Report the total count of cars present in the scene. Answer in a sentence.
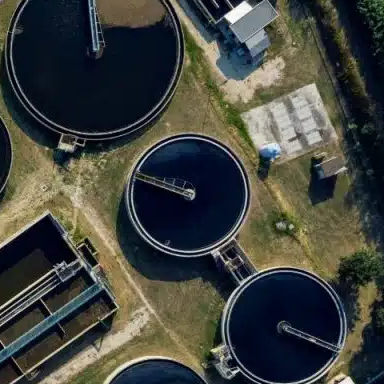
The picture shows no cars.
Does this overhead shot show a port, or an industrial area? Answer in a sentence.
This looks like an industrial area.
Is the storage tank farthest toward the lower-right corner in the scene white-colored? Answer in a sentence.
No, the storage tank farthest toward the lower-right corner is actually black.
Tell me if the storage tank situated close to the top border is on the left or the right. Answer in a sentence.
The storage tank situated close to the top border appears in the left half of the scene.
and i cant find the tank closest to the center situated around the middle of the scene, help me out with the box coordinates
[124,133,250,257]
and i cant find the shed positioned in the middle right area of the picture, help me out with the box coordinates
[312,156,345,181]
